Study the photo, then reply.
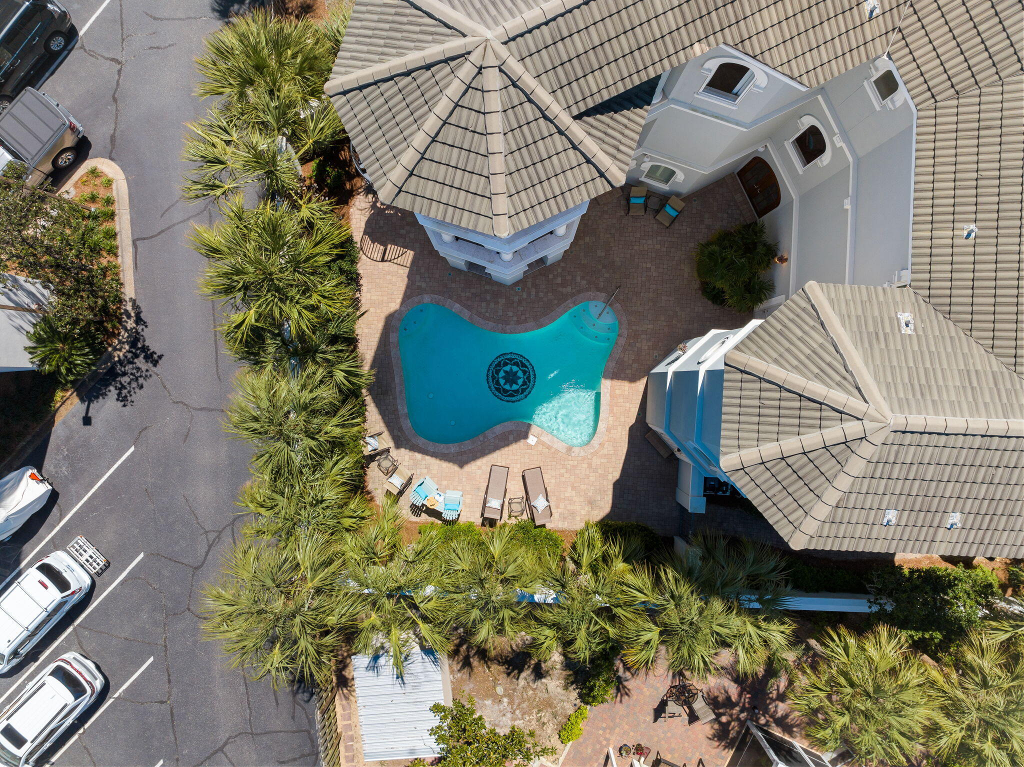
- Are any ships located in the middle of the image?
No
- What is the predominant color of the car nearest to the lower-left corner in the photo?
white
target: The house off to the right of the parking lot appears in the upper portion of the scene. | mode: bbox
[315,0,1024,559]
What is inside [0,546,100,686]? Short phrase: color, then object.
white vehicle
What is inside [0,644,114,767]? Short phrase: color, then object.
white car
